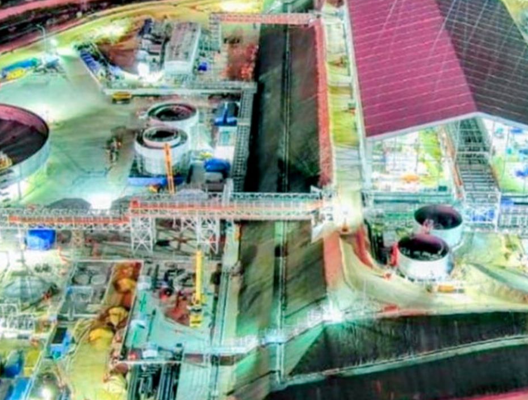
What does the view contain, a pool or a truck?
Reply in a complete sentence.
The image shows a truck.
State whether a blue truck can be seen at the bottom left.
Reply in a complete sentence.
Yes, there is a blue truck at the bottom left.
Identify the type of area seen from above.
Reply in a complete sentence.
This image shows an industrial area.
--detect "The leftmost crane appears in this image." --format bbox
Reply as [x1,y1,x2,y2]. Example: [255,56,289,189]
[152,131,181,207]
